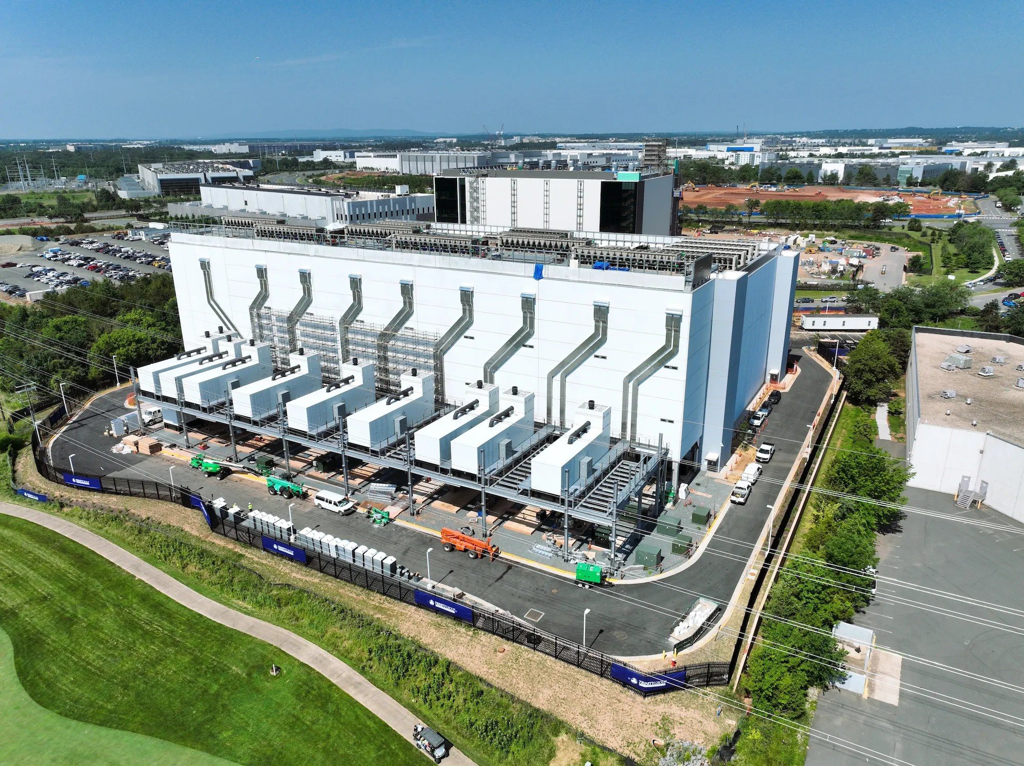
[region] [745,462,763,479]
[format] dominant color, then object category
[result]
white car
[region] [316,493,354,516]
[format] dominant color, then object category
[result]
white vehicle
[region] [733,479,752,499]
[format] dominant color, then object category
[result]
white vehicle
